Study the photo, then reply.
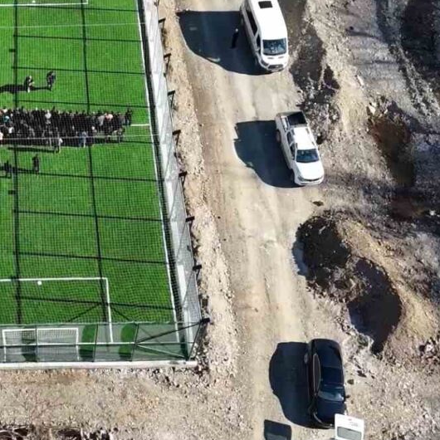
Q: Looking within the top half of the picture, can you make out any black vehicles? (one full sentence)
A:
No, no black vehicle appears within the top half of the picture.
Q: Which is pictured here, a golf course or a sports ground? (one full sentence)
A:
What you see here is a sports ground.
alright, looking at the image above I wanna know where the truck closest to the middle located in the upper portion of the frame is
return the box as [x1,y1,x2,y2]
[275,112,330,188]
